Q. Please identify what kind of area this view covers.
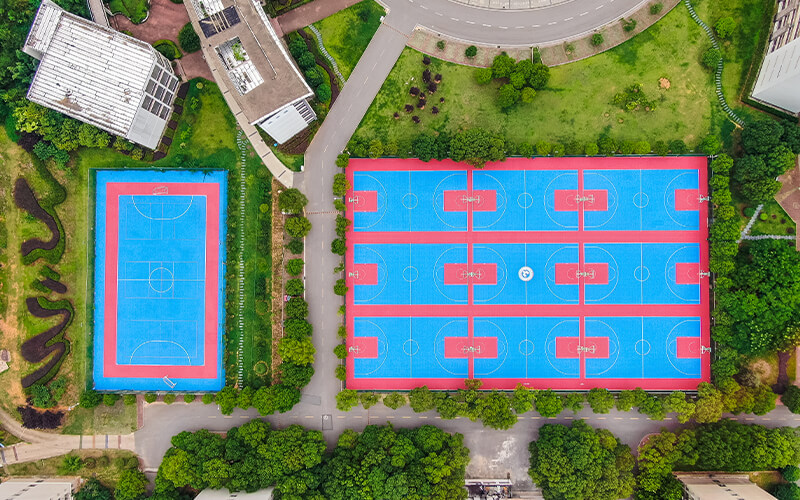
sports ground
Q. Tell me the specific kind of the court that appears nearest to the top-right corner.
basketball court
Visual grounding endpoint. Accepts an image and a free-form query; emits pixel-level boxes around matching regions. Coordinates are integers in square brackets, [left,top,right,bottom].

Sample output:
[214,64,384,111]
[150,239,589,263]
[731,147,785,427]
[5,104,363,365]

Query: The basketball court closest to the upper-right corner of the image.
[583,169,699,231]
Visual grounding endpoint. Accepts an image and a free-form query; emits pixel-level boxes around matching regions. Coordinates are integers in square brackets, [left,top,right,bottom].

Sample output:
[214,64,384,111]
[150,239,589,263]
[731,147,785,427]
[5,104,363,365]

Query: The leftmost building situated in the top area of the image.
[24,0,177,147]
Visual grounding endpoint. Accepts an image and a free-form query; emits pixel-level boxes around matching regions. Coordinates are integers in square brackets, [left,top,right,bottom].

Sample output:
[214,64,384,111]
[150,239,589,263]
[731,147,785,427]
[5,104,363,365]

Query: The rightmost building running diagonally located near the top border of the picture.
[189,0,320,145]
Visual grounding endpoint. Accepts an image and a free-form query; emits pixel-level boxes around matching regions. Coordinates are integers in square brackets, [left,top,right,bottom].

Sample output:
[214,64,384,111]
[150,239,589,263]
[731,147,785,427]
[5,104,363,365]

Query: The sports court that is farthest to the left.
[94,170,227,391]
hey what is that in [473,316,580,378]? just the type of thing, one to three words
basketball court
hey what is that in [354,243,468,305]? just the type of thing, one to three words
basketball court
